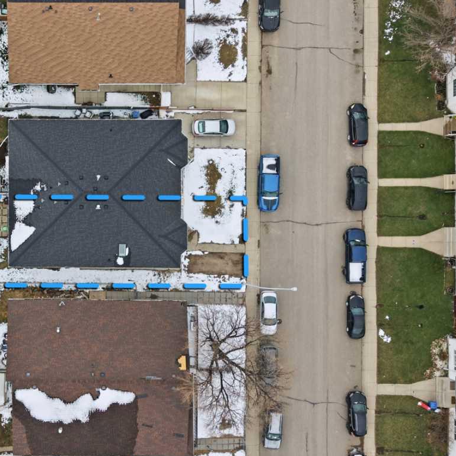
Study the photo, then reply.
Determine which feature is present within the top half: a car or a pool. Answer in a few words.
car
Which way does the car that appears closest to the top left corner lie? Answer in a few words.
horizontally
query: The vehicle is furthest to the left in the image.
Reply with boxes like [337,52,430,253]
[192,117,236,138]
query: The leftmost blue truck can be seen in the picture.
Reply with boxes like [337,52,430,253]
[257,153,282,212]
